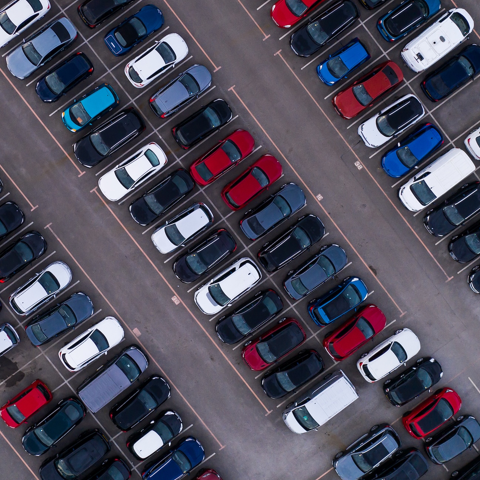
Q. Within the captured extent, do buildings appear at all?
No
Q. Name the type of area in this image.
parking lot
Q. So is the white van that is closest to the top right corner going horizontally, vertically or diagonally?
diagonally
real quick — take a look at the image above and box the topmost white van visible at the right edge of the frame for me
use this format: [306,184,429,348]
[397,6,476,75]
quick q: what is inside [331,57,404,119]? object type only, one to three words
car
